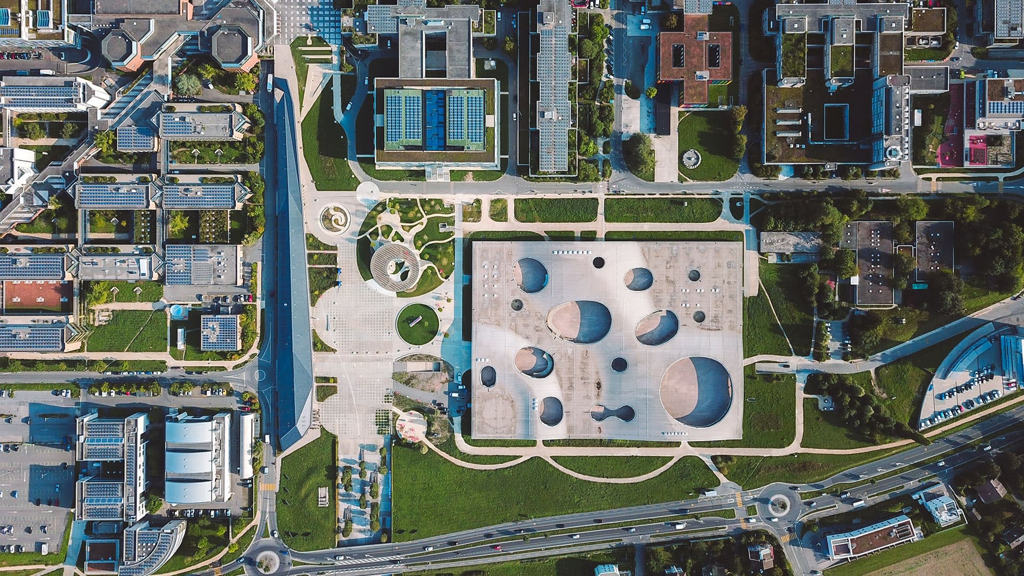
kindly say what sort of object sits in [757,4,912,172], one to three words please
building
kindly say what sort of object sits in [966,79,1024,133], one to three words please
building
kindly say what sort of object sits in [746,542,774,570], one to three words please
house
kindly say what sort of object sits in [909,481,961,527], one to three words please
house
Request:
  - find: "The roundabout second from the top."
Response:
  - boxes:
[758,483,801,527]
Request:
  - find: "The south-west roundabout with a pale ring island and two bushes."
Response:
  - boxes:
[245,540,291,576]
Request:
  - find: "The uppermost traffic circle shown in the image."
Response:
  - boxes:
[244,360,275,391]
